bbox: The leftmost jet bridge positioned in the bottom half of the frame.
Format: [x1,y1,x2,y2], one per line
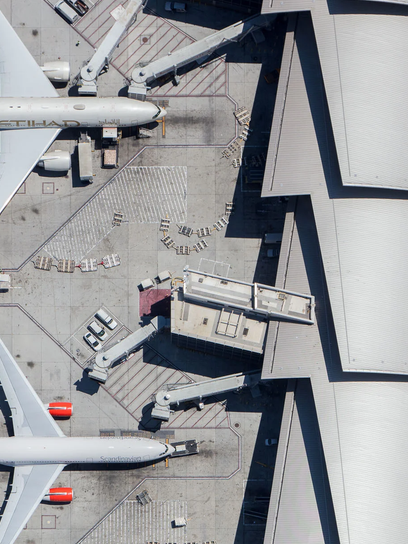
[86,313,171,386]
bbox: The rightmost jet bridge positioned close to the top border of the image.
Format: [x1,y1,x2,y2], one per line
[124,4,271,100]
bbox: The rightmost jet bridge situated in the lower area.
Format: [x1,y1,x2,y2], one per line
[148,363,271,422]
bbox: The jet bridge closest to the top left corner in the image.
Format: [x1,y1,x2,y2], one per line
[74,0,148,97]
